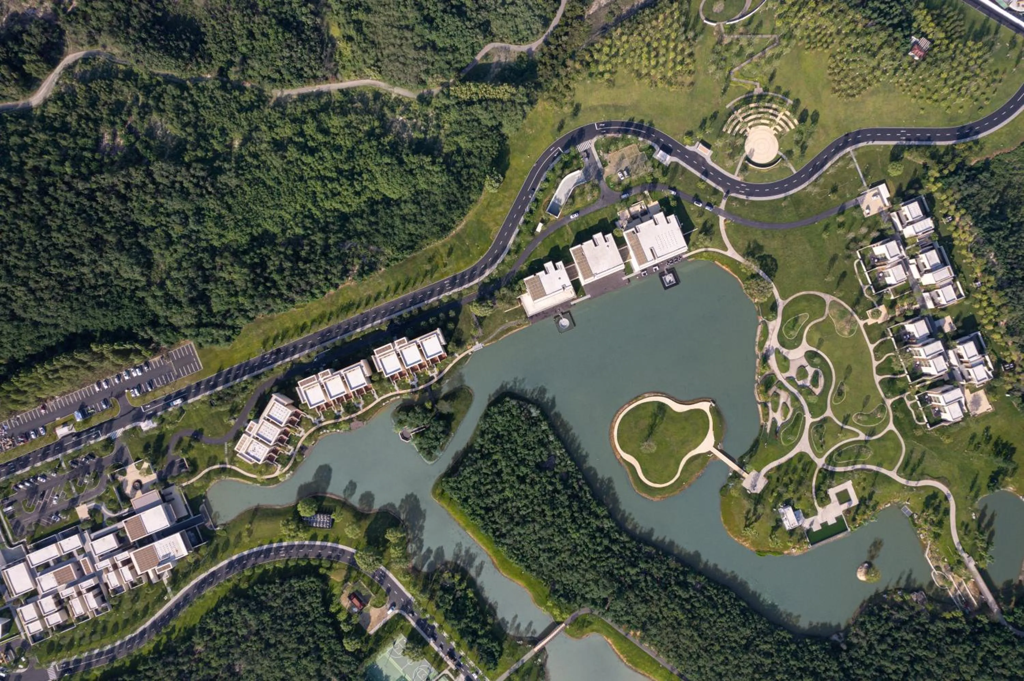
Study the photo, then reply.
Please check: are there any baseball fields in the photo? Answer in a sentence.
No, I find no baseball field anywhere in the image.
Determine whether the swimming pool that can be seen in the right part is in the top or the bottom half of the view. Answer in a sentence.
It is in the bottom half that the swimming pool that can be seen in the right part appears.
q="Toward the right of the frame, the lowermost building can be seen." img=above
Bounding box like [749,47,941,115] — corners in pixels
[775,505,805,531]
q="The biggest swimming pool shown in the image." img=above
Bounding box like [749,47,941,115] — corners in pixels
[808,514,850,549]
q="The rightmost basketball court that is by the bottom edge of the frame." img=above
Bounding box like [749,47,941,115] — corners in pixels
[367,634,439,681]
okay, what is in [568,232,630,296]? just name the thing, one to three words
building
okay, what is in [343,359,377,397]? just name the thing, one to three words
house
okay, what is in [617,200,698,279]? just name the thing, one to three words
building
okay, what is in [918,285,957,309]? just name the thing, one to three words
house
